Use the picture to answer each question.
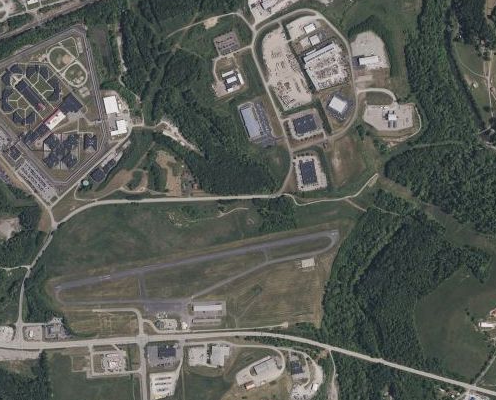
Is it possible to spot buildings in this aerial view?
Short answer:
Yes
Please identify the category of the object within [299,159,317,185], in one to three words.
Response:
building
